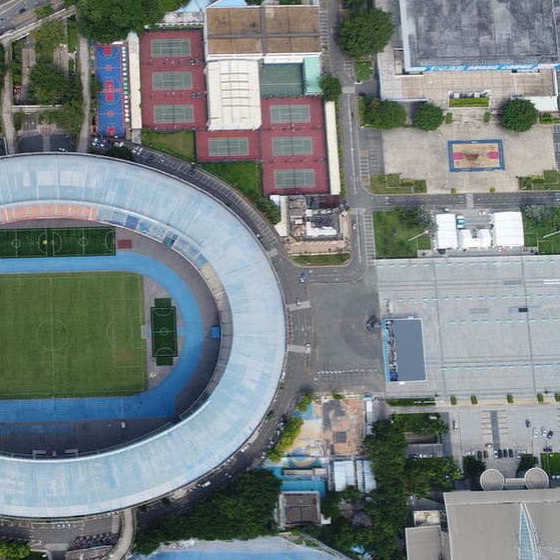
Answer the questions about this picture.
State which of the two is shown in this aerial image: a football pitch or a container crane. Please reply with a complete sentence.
There is a football pitch in the scene.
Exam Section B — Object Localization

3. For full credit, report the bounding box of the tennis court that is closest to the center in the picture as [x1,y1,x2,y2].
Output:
[274,169,315,189]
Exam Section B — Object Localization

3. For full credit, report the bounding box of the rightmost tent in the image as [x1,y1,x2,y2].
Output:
[487,211,524,249]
